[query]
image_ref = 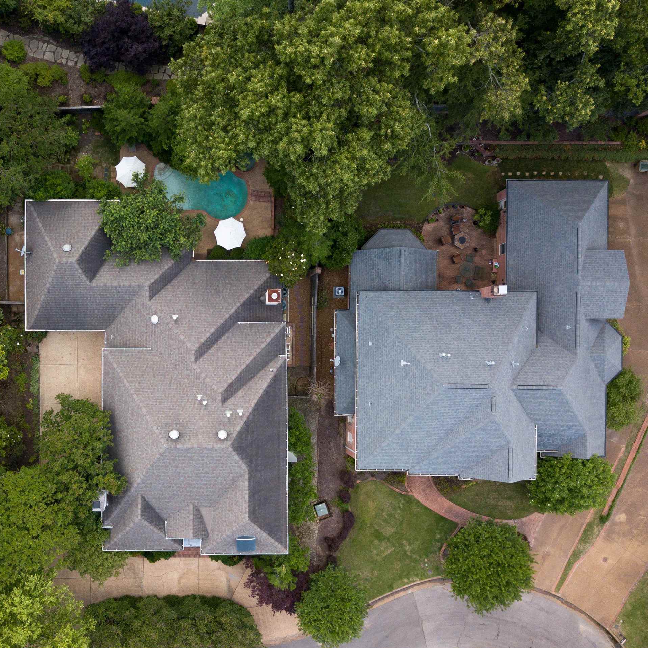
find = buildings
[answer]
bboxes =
[24,199,297,556]
[332,179,630,483]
